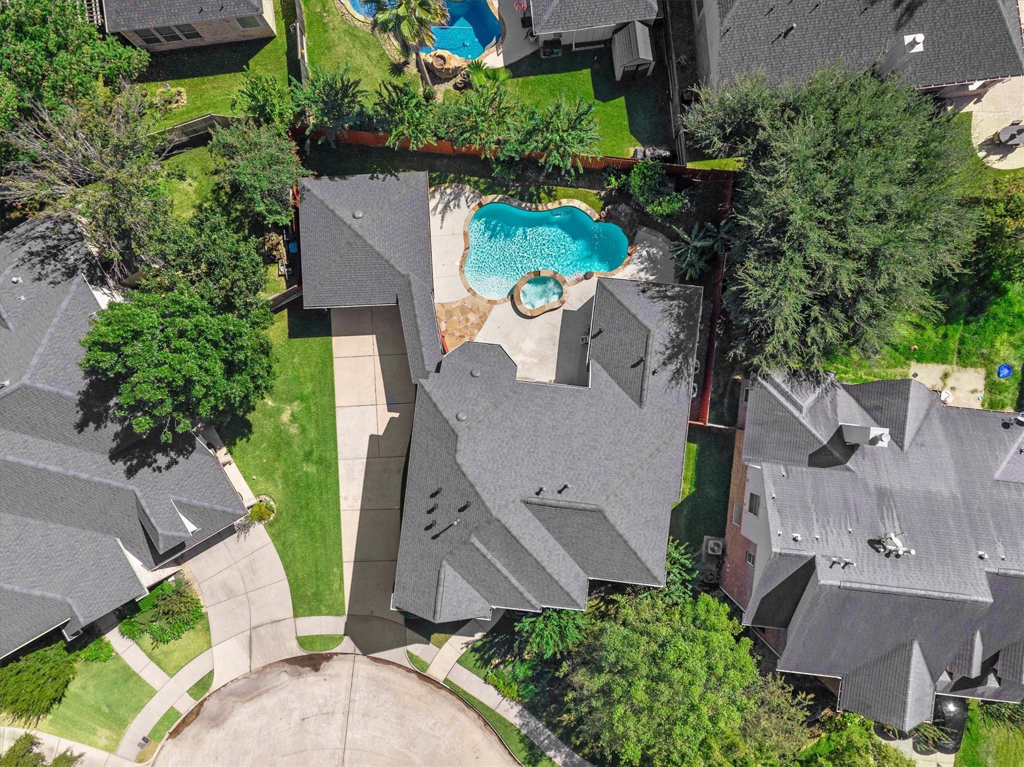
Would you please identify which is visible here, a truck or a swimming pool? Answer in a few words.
swimming pool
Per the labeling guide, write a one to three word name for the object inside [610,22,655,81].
shed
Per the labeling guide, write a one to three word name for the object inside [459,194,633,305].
swimming pool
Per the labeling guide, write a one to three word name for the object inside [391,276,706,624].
house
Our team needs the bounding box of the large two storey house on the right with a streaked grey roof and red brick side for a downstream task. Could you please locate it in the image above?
[719,371,1024,732]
